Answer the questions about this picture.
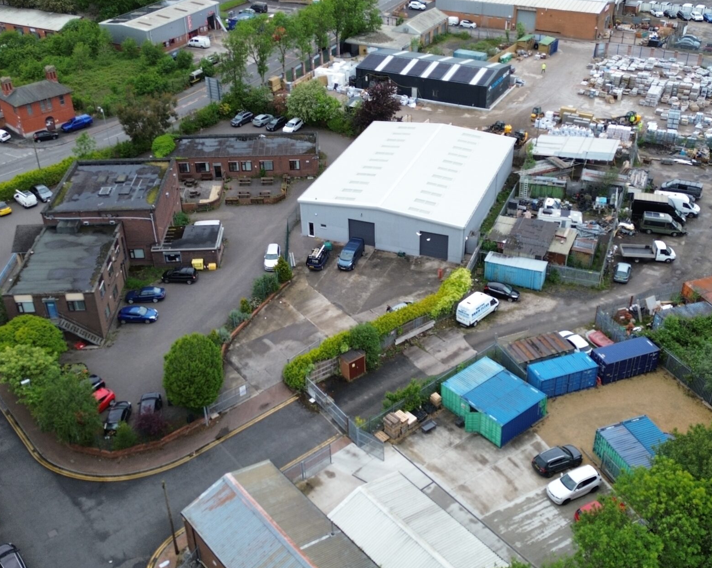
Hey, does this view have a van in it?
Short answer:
Yes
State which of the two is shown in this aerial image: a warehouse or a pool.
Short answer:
warehouse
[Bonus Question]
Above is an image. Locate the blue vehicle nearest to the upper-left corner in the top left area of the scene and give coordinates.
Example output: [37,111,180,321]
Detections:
[60,112,93,132]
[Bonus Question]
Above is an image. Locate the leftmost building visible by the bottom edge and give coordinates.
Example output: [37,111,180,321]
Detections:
[174,456,396,568]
